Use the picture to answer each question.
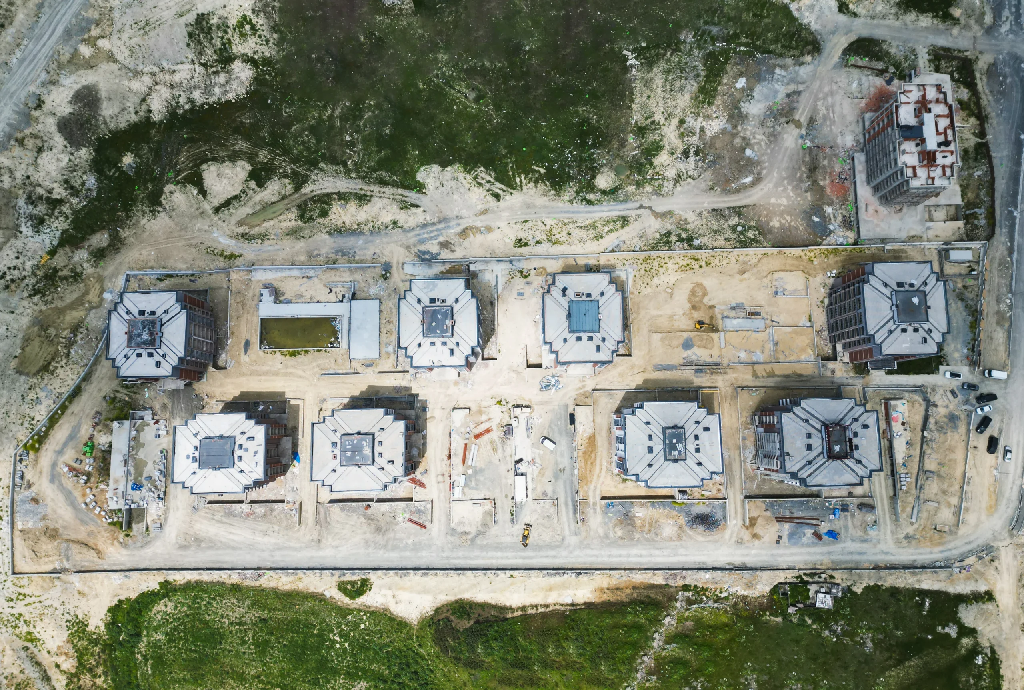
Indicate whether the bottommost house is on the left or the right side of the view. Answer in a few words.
right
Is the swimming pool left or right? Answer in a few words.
left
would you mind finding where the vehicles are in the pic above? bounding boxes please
[942,370,963,379]
[982,369,1012,379]
[974,392,1000,404]
[974,404,994,415]
[960,381,980,392]
[518,516,532,549]
[1001,444,1013,463]
[539,435,558,451]
[986,434,999,455]
[974,415,993,435]
[691,321,714,330]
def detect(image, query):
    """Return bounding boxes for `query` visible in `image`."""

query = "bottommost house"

[776,581,842,613]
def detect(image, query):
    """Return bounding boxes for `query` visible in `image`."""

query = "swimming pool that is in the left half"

[258,315,344,351]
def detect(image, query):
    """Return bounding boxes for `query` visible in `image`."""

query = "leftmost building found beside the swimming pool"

[104,291,218,389]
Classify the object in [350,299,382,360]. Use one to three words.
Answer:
building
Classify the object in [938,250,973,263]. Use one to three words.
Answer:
shed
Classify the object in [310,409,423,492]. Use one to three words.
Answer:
building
